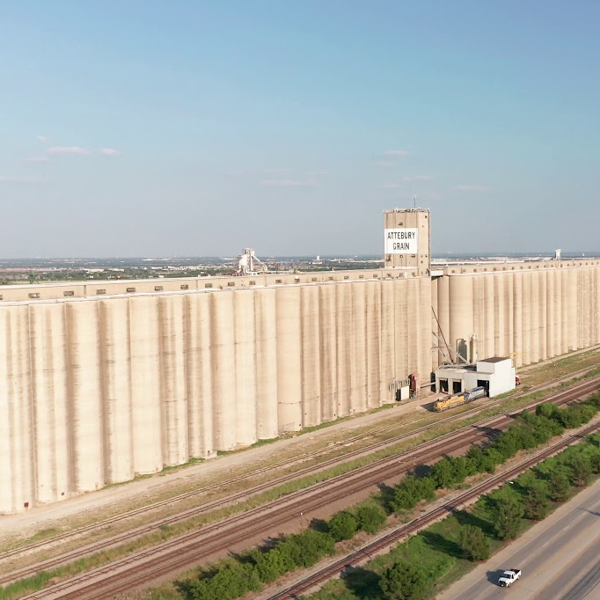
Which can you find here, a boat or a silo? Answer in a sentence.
I can see a silo in this picture.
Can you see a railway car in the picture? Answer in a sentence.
Yes, there is a railway car in the image.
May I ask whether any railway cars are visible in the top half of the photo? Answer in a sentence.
No, no railway car appears in the top half of the photo.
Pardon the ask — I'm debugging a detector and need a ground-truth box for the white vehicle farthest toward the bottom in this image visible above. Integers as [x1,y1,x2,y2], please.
[499,567,521,586]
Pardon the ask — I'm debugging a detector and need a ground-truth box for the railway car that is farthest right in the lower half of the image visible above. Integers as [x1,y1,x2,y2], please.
[464,385,488,401]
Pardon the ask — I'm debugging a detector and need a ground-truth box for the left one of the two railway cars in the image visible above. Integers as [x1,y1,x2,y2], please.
[434,391,467,410]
